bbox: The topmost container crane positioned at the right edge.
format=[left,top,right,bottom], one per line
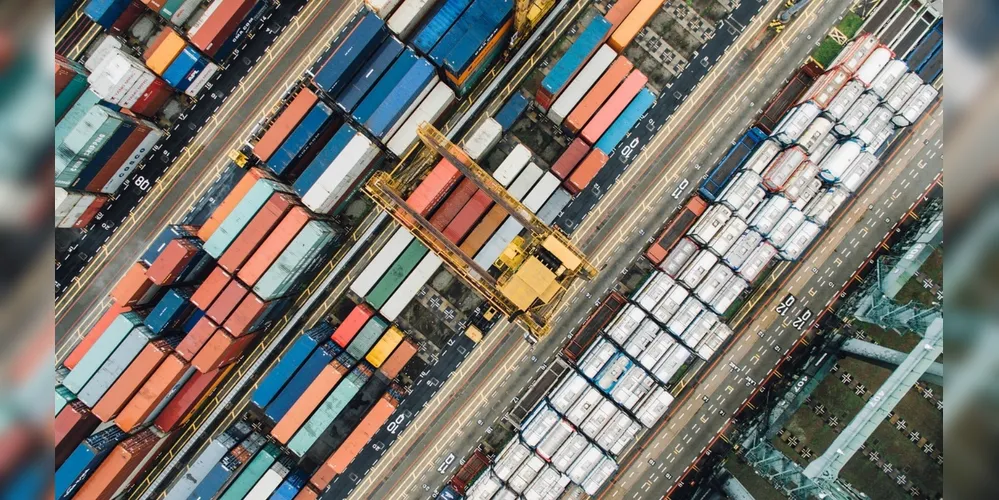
[843,186,999,364]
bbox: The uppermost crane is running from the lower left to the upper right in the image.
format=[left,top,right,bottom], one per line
[502,0,561,61]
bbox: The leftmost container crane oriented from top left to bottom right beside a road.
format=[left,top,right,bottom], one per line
[361,115,601,339]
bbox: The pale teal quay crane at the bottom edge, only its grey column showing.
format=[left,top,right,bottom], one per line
[677,455,750,500]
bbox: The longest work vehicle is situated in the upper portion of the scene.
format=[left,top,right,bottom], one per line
[220,92,295,182]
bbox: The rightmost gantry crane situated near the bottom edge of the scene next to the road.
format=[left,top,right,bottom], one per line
[735,319,999,500]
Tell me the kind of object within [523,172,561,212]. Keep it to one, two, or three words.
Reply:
shipping container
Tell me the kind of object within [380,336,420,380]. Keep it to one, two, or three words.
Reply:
shipping container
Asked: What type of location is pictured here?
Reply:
industrial area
